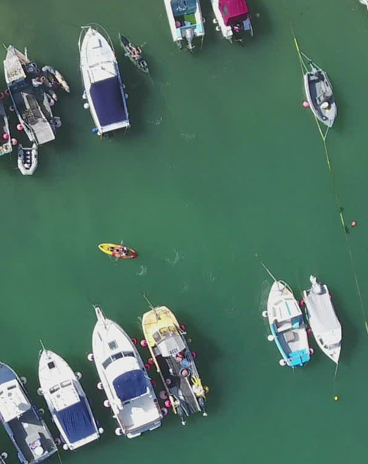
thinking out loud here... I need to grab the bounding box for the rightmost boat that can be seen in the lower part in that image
[300,276,345,364]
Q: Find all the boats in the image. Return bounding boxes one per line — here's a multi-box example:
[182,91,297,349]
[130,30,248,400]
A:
[304,63,335,127]
[3,46,55,144]
[92,305,164,438]
[300,276,345,364]
[17,144,38,174]
[164,0,203,52]
[37,346,100,449]
[0,361,56,464]
[118,33,149,73]
[99,243,139,259]
[80,22,130,141]
[44,69,70,99]
[143,305,208,425]
[266,276,313,367]
[210,0,253,45]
